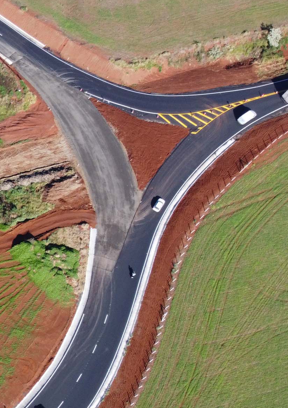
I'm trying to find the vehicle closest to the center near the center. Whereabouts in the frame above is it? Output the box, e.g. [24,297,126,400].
[152,198,164,214]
